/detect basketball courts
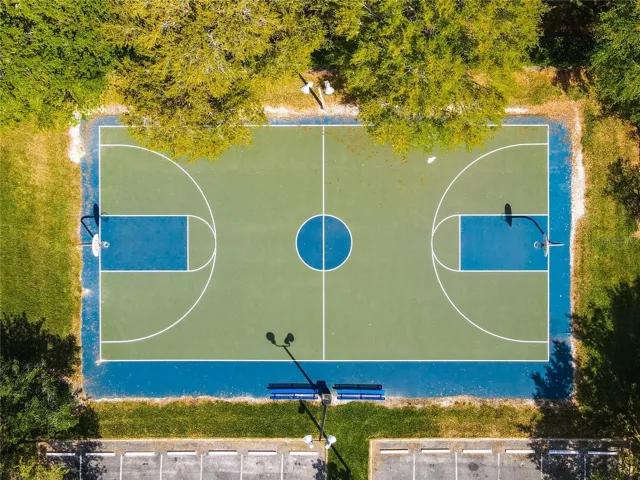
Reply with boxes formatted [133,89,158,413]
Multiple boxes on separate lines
[81,114,574,400]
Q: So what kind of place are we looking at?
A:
sports ground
